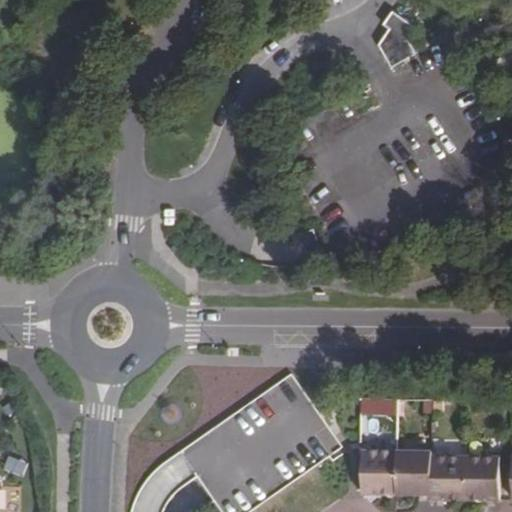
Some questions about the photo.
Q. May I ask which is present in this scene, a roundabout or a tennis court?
roundabout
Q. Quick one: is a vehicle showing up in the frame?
Yes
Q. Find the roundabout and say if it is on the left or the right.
left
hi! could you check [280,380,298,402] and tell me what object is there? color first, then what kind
gray car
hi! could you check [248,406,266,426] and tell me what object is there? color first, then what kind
white car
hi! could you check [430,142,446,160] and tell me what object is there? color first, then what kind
white car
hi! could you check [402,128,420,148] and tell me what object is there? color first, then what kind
gray car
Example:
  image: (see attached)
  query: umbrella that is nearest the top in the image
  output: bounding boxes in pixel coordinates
[468,440,482,453]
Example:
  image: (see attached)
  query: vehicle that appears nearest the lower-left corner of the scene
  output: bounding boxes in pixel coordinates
[120,355,140,374]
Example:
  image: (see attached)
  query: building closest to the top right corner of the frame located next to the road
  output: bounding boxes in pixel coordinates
[378,10,416,70]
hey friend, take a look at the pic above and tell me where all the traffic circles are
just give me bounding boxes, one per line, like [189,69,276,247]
[50,265,170,384]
